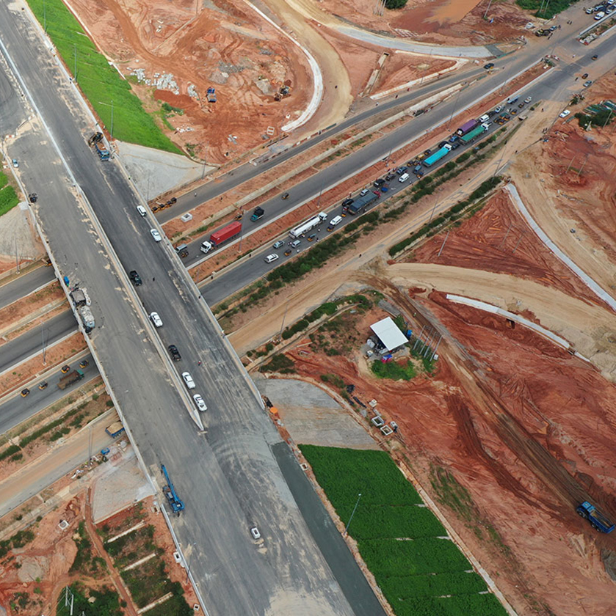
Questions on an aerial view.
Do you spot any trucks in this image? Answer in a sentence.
Yes, the picture does show a truck.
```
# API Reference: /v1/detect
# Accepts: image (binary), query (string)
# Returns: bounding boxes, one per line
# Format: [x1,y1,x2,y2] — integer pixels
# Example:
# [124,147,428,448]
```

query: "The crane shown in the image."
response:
[164,462,190,522]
